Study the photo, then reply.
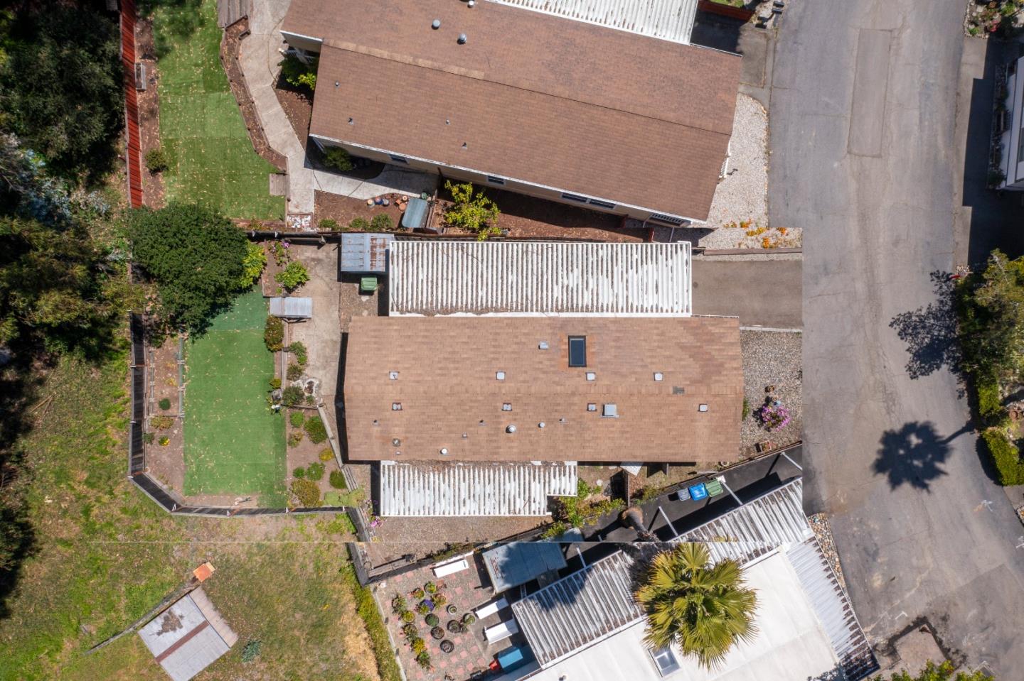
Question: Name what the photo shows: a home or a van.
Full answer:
Of the two, only a home appears.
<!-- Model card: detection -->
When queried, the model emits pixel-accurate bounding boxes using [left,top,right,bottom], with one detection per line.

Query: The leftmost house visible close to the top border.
[270,0,742,230]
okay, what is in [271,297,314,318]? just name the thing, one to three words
building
